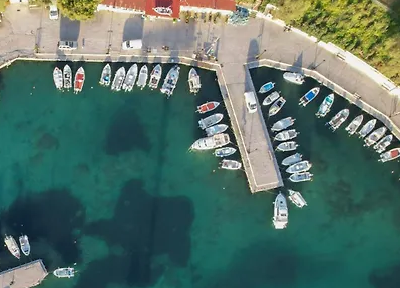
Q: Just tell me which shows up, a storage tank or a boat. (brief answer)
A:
boat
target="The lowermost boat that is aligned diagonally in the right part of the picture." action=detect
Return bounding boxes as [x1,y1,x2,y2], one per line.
[287,189,305,207]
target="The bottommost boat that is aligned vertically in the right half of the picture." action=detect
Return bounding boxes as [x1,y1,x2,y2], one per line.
[269,185,289,231]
